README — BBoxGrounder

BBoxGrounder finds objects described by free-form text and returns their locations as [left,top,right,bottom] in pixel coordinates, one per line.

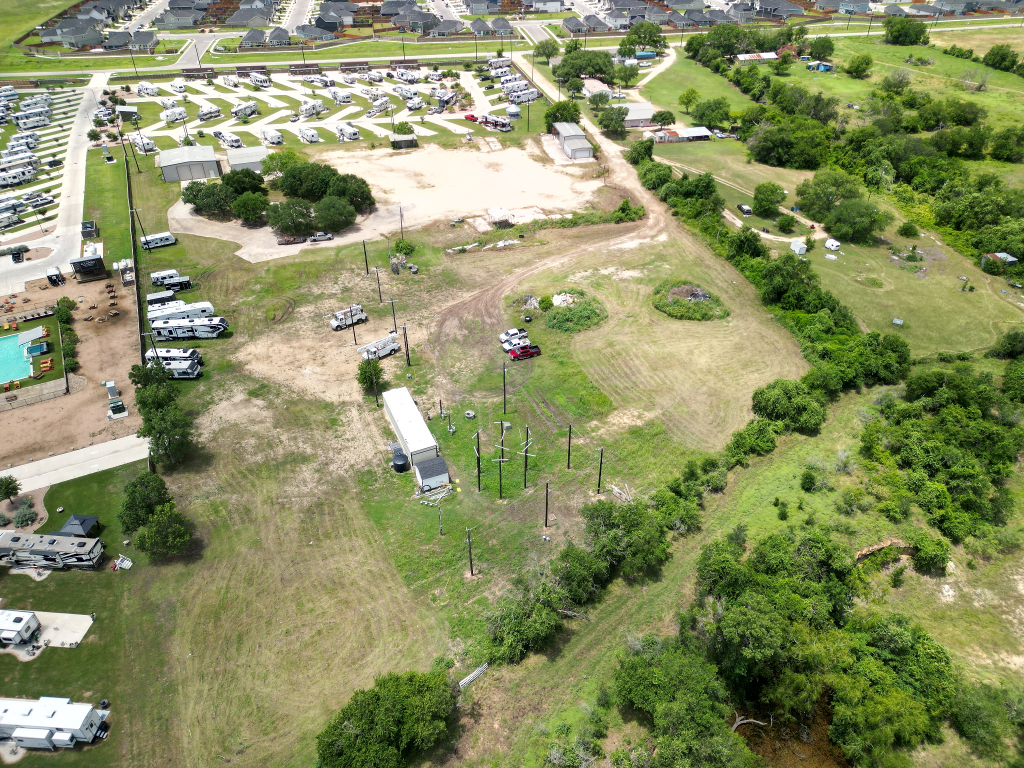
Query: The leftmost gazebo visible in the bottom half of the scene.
[60,516,105,535]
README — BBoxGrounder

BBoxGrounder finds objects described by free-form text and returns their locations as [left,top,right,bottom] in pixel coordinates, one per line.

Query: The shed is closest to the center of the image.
[418,452,455,489]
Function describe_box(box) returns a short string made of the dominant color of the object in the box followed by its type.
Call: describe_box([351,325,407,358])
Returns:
white truck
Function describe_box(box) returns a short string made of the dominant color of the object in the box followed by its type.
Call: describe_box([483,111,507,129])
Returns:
white camper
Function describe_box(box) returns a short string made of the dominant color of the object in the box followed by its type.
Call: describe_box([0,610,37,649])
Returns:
white trailer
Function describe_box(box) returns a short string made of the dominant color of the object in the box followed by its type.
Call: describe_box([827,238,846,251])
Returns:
white vehicle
